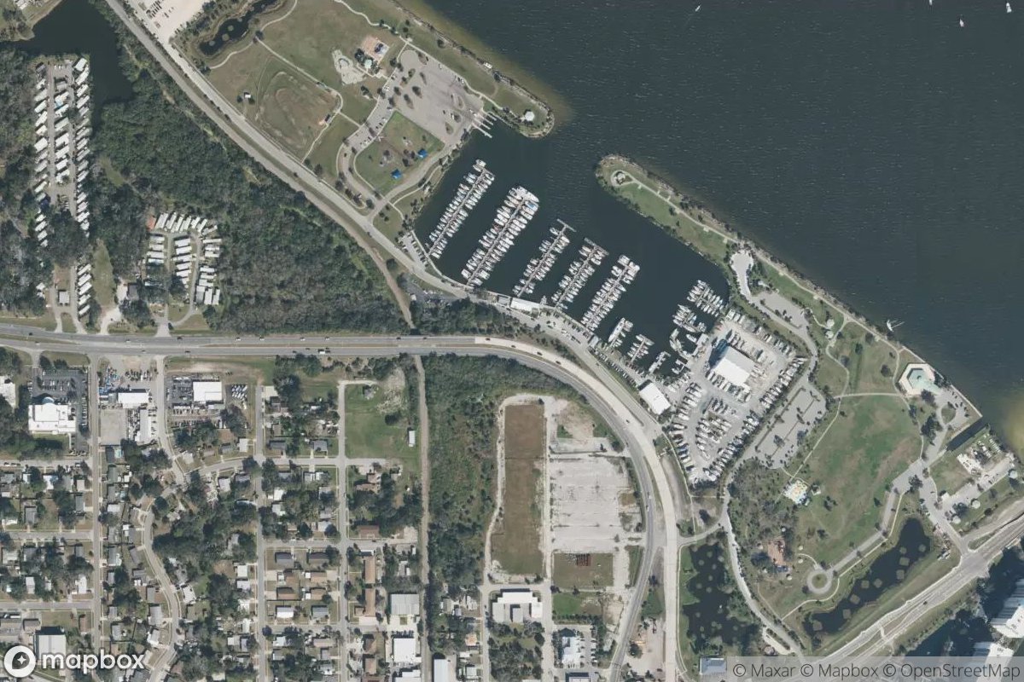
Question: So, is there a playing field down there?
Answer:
Yes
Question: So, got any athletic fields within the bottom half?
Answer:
No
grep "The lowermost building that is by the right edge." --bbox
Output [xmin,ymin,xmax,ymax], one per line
[965,640,1013,682]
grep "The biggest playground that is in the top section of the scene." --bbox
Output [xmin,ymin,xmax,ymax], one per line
[361,36,390,62]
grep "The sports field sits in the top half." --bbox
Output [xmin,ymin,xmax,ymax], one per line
[259,71,338,152]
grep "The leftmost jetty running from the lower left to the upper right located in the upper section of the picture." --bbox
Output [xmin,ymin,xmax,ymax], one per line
[424,166,495,255]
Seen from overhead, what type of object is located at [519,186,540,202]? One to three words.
boat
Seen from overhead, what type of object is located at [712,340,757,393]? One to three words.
shed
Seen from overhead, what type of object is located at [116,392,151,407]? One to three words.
building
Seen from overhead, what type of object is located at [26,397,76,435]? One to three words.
building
